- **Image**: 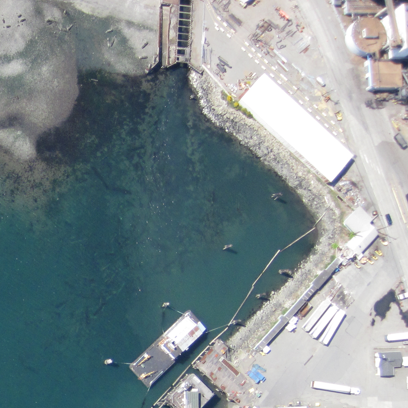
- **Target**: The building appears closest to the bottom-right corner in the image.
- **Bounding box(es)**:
[371,352,408,376]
